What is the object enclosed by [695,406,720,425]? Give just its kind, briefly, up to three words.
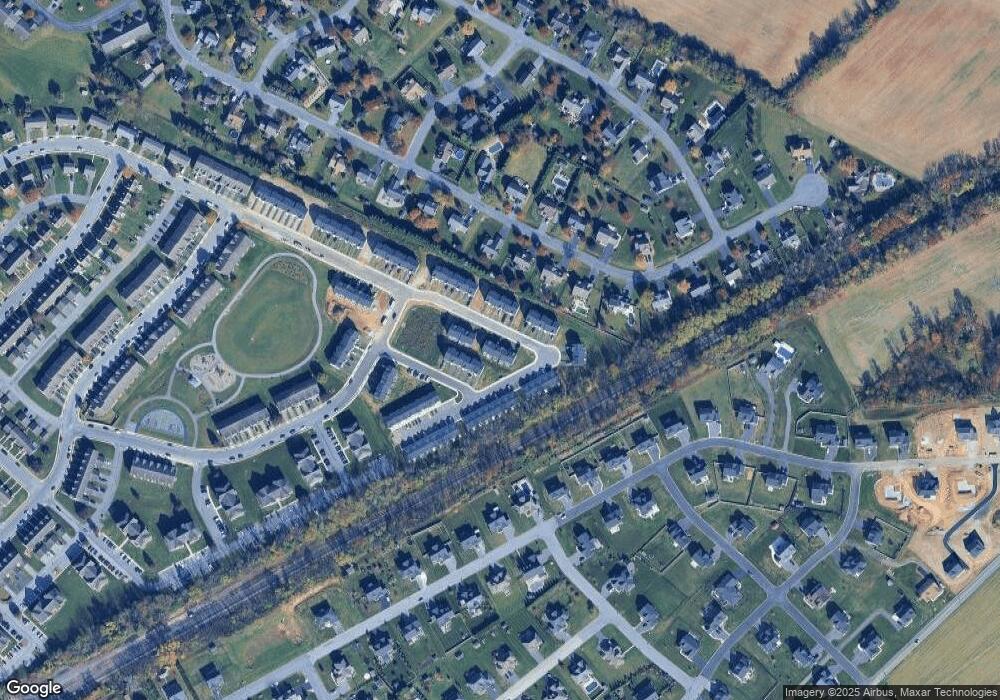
house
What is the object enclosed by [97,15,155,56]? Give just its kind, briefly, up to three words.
building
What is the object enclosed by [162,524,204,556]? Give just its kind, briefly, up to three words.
building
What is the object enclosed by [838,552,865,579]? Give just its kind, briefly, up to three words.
house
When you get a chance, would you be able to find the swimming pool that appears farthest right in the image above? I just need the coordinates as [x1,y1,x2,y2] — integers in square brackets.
[874,174,894,190]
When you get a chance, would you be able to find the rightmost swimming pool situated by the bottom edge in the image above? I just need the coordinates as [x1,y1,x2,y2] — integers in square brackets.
[583,678,602,695]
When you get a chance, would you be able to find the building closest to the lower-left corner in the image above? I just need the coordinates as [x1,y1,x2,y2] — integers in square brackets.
[28,587,70,624]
